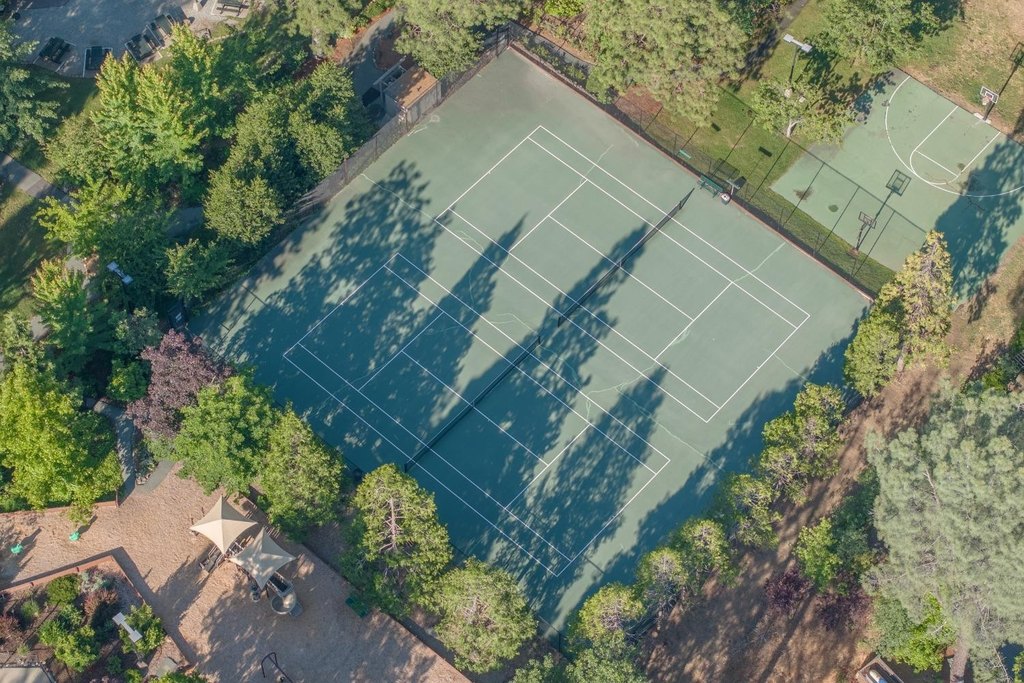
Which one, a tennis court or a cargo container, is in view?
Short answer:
tennis court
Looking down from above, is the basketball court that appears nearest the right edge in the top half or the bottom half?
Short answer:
top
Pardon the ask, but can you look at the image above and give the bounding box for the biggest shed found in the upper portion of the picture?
[367,48,439,128]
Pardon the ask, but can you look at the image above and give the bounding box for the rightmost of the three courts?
[773,76,1024,308]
